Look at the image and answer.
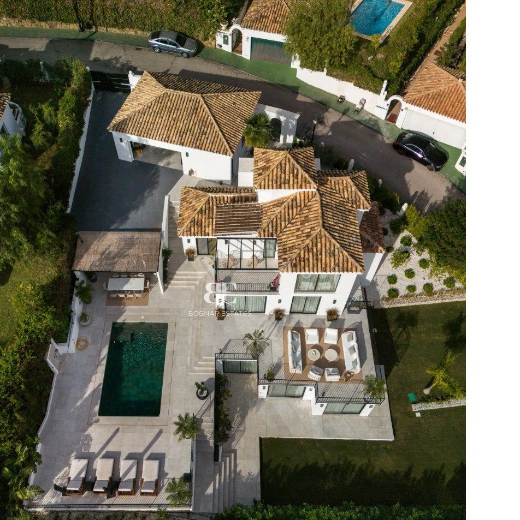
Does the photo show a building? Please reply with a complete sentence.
Yes, I can see a building in this picture.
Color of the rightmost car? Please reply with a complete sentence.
The rightmost car is black.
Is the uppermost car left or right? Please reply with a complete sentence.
The uppermost car is on the left side of the image.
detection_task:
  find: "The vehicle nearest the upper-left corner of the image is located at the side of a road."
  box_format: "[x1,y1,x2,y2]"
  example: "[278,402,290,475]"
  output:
[147,33,197,58]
